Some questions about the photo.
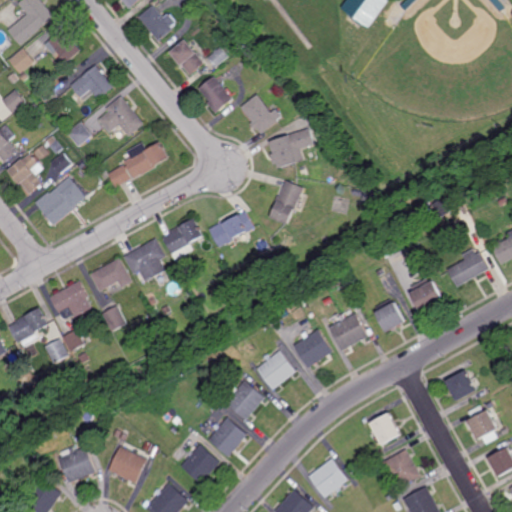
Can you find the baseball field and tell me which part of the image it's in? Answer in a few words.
top right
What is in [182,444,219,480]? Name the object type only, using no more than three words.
house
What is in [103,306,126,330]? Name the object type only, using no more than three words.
building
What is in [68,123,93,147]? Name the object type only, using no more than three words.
building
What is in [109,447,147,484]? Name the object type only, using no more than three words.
house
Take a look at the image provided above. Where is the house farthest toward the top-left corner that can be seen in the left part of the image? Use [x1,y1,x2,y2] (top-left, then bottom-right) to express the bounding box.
[6,0,52,46]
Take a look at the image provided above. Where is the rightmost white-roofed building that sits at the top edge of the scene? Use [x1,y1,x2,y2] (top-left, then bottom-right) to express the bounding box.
[340,0,390,29]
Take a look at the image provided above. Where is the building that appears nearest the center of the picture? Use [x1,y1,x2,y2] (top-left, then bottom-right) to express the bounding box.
[210,211,256,245]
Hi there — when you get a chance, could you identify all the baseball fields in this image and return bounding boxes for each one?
[358,0,512,121]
